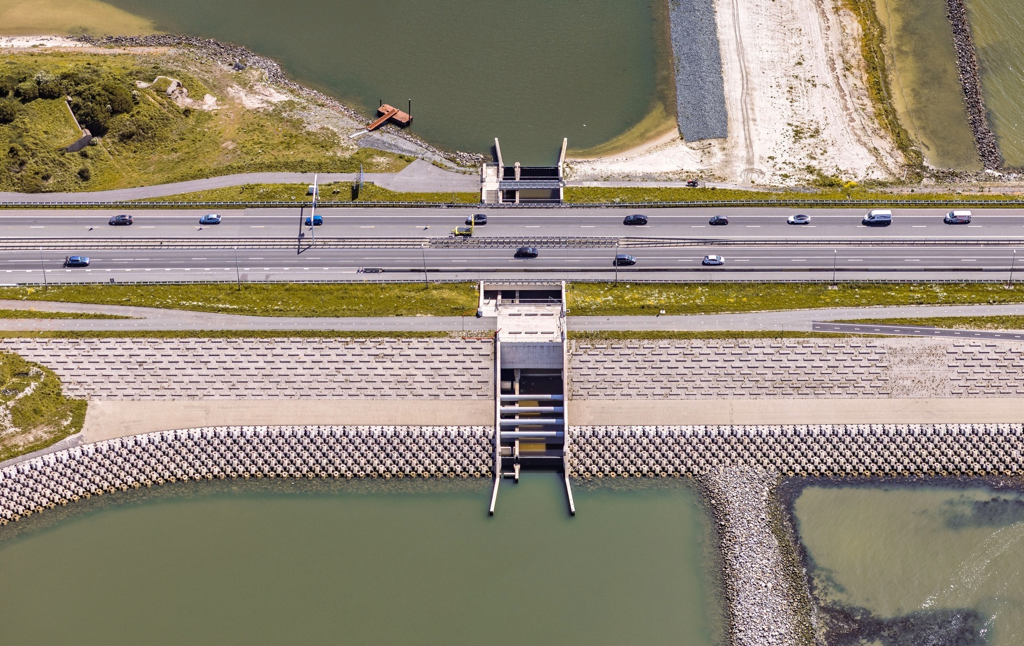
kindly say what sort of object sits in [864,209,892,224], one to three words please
vehicle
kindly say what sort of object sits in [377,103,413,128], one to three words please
pier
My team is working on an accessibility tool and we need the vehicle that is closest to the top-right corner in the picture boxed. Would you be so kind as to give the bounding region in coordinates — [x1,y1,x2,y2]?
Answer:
[947,211,971,223]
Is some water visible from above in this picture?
Yes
